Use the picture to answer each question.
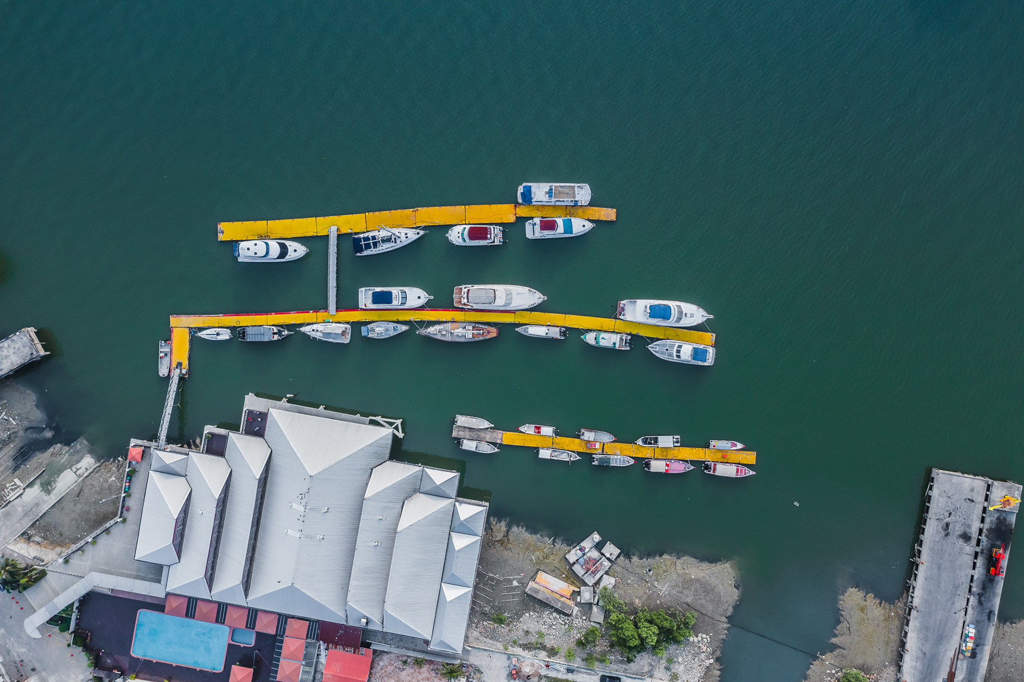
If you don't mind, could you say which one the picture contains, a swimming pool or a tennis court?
swimming pool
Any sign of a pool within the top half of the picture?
No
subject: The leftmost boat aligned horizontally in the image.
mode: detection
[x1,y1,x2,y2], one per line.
[194,328,234,340]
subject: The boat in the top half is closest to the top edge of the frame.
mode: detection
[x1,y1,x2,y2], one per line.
[517,183,593,206]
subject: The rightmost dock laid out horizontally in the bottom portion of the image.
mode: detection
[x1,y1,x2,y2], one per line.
[454,425,756,464]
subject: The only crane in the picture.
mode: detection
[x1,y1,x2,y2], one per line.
[985,542,1007,576]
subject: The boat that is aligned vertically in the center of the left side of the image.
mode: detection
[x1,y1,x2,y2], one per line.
[158,337,170,377]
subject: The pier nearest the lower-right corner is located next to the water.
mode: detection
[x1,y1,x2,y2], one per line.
[890,467,1022,682]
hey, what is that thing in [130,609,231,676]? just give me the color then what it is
blue swimming pool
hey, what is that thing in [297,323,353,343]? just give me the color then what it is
white boat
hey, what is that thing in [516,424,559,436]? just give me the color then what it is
white boat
